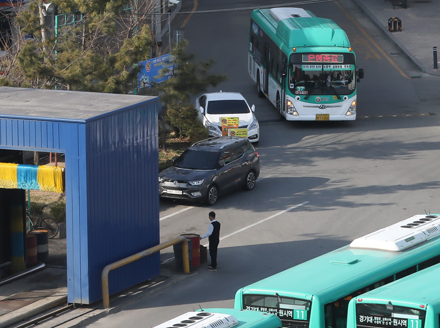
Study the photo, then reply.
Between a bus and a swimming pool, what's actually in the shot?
bus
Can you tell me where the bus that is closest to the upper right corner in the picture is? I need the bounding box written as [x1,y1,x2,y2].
[248,9,368,122]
